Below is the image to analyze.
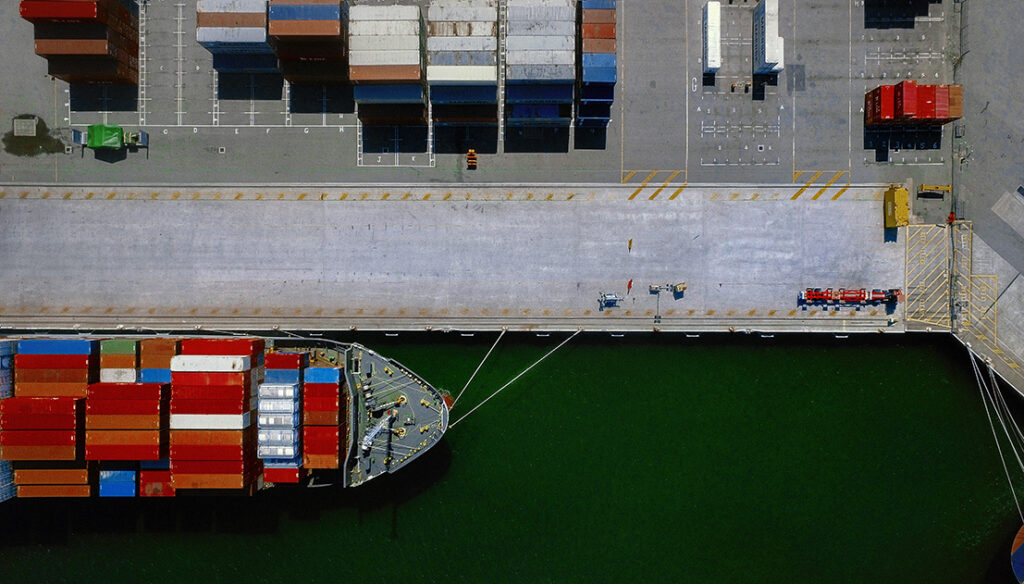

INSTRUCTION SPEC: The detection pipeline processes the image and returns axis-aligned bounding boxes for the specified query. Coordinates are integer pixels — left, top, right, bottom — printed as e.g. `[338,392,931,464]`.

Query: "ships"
[0,333,455,498]
[1010,525,1024,584]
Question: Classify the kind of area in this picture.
port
